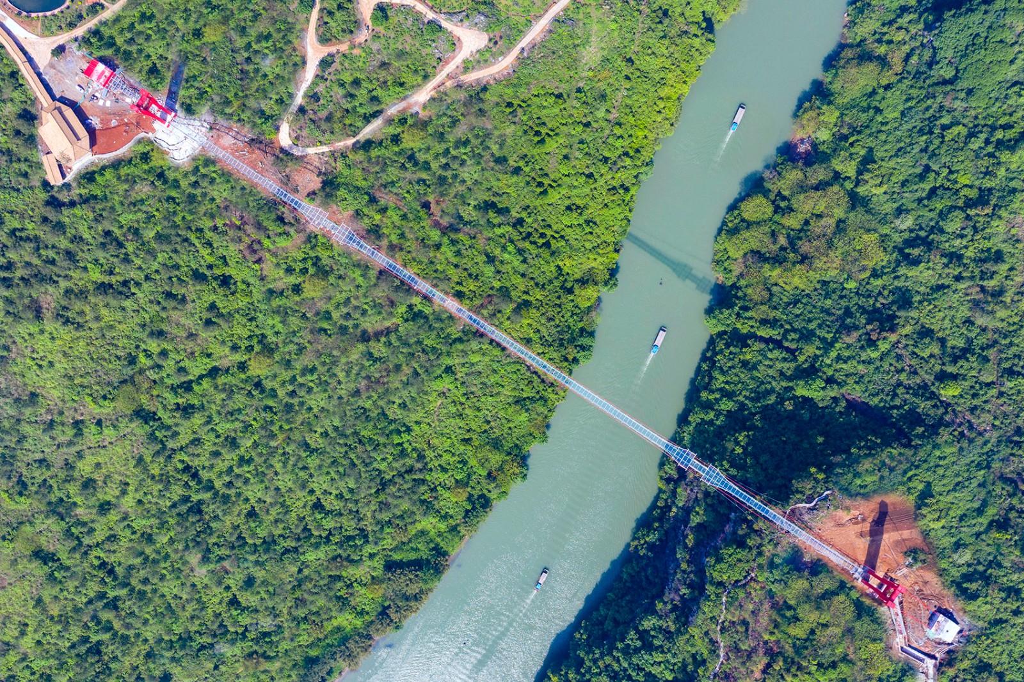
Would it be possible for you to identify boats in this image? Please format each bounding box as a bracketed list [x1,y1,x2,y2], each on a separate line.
[731,101,745,132]
[652,326,666,355]
[533,568,548,594]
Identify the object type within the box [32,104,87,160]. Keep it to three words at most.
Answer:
building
